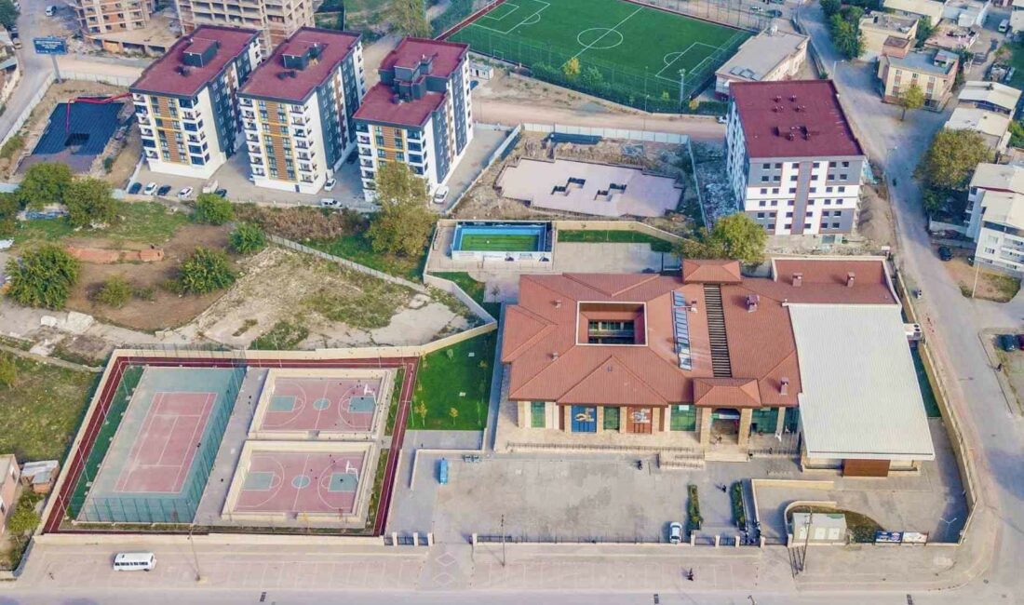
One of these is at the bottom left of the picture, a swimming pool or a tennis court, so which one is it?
tennis court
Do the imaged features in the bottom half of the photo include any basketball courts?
Yes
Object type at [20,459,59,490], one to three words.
shed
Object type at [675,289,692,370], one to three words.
solar panel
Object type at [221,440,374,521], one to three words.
basketball court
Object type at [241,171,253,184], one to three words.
vehicle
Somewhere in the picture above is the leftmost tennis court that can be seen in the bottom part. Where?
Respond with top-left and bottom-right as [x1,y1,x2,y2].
[79,367,244,521]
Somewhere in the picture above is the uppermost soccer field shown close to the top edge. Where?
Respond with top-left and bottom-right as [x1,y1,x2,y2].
[454,0,757,105]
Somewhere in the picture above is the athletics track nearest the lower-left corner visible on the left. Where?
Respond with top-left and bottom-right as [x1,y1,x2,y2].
[41,355,420,539]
